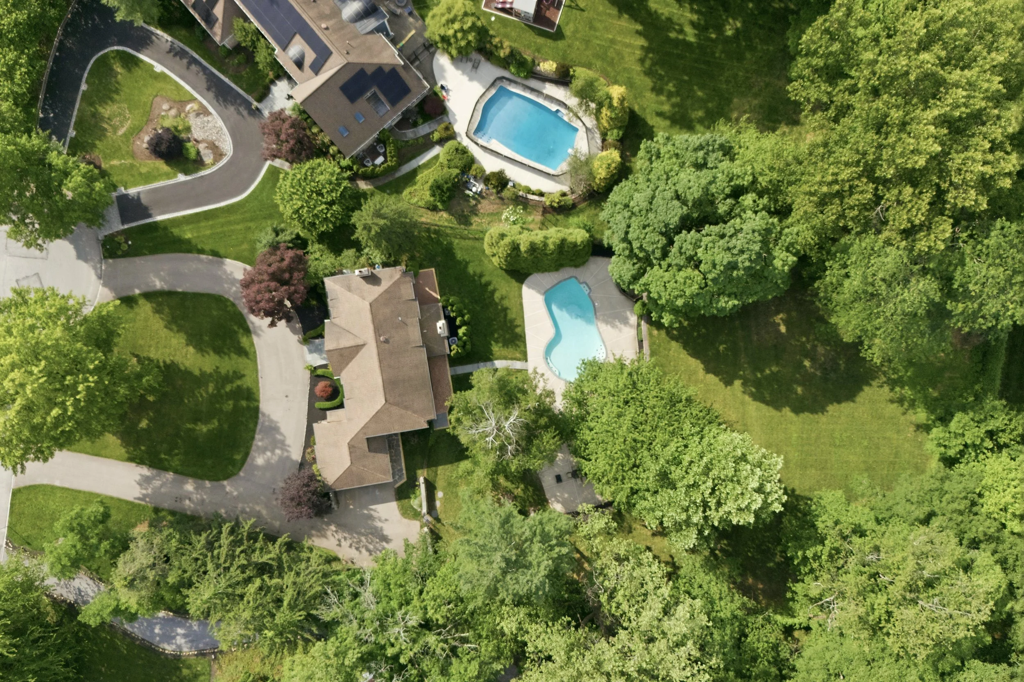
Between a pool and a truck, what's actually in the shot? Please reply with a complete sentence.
There is a pool in the scene.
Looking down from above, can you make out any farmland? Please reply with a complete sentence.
No, there is no farmland in the image.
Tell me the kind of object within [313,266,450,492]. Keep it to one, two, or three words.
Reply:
house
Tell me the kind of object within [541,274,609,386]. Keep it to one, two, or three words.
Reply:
swimming pool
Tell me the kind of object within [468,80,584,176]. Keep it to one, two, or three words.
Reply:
swimming pool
